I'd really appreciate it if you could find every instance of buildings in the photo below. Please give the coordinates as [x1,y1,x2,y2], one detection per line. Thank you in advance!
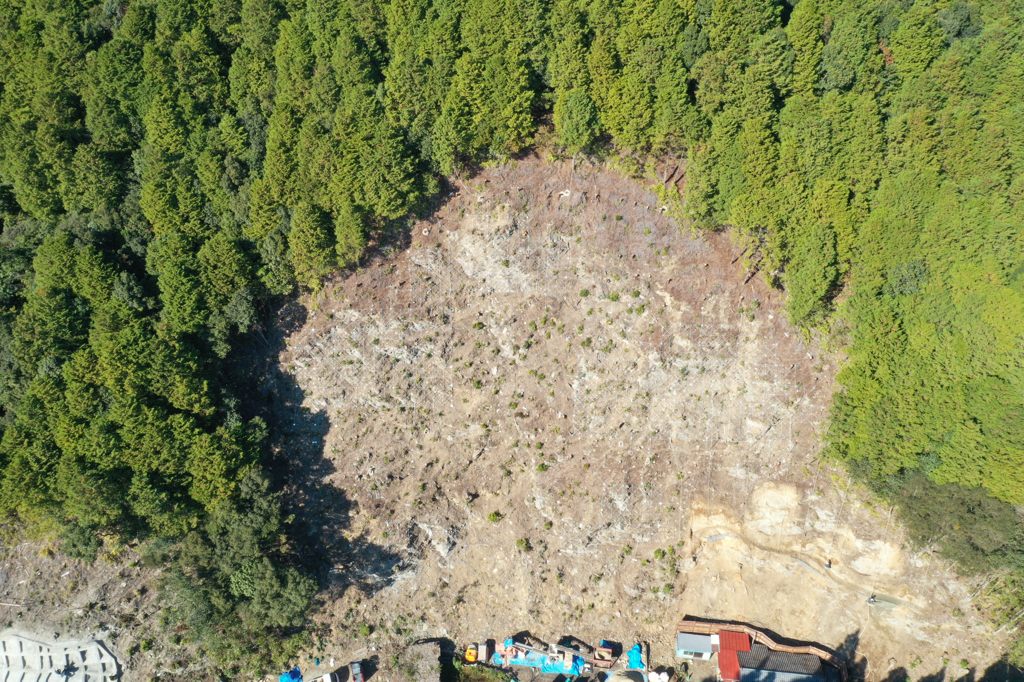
[713,631,840,682]
[674,635,714,663]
